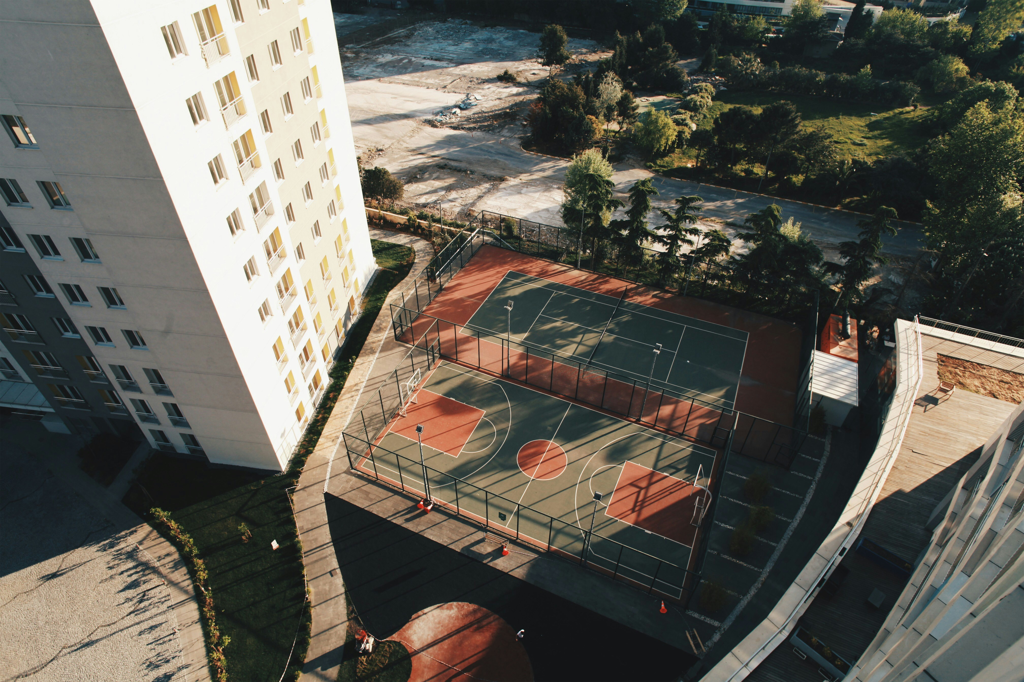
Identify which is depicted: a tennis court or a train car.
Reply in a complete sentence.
Of the two, only a tennis court appears.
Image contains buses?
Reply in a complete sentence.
No, there is no bus in the image.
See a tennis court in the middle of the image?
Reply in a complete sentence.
Yes, looking in the middle of the image, one can make out a tennis court.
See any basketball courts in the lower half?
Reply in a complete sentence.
Yes, the scene does show a basketball court in the lower half.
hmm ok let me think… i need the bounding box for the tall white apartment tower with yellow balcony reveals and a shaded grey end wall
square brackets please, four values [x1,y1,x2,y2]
[0,0,377,471]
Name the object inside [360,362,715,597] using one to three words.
basketball court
